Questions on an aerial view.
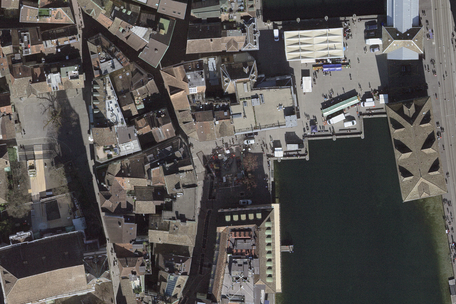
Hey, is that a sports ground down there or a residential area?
residential area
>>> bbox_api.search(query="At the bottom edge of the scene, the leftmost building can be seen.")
[0,228,88,304]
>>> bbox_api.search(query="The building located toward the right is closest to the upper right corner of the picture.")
[382,0,424,60]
